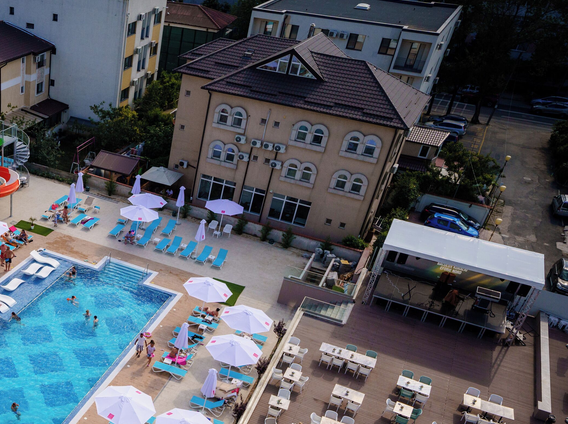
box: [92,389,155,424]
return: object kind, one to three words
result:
umbrella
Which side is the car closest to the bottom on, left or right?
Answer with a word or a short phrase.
right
